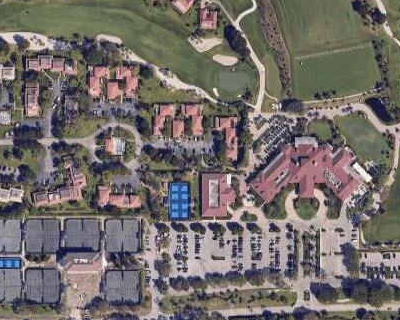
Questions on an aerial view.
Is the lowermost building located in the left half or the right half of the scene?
left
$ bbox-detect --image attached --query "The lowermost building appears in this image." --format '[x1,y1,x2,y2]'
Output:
[57,250,103,272]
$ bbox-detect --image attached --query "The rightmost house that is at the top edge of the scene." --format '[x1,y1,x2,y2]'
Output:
[199,8,218,27]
